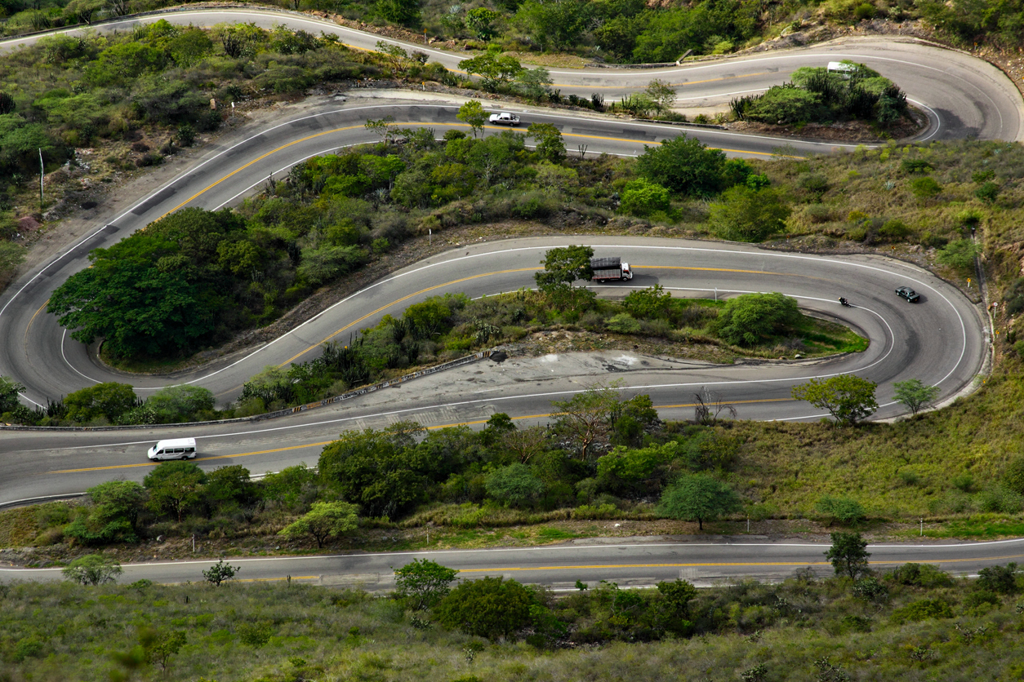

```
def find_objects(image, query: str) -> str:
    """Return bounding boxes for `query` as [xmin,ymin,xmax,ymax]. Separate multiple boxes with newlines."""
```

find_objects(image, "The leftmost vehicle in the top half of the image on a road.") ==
[487,112,521,126]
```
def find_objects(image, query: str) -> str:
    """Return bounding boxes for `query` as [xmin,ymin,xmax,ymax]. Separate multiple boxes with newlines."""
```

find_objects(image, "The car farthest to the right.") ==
[894,285,923,302]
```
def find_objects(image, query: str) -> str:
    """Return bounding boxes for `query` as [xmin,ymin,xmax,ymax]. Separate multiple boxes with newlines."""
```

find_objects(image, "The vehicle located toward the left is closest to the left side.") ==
[145,435,198,464]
